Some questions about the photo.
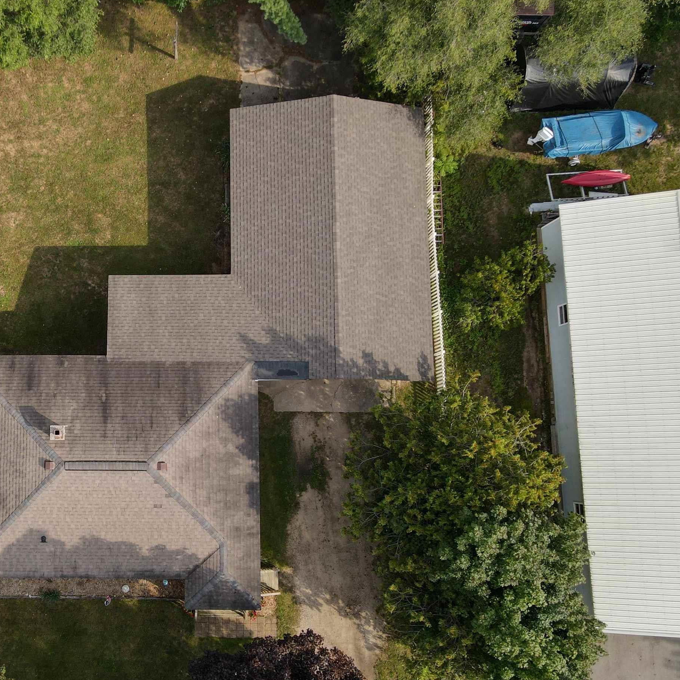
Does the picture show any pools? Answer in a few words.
No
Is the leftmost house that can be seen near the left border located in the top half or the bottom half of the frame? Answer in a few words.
bottom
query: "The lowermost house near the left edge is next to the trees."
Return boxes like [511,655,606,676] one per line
[0,354,263,613]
